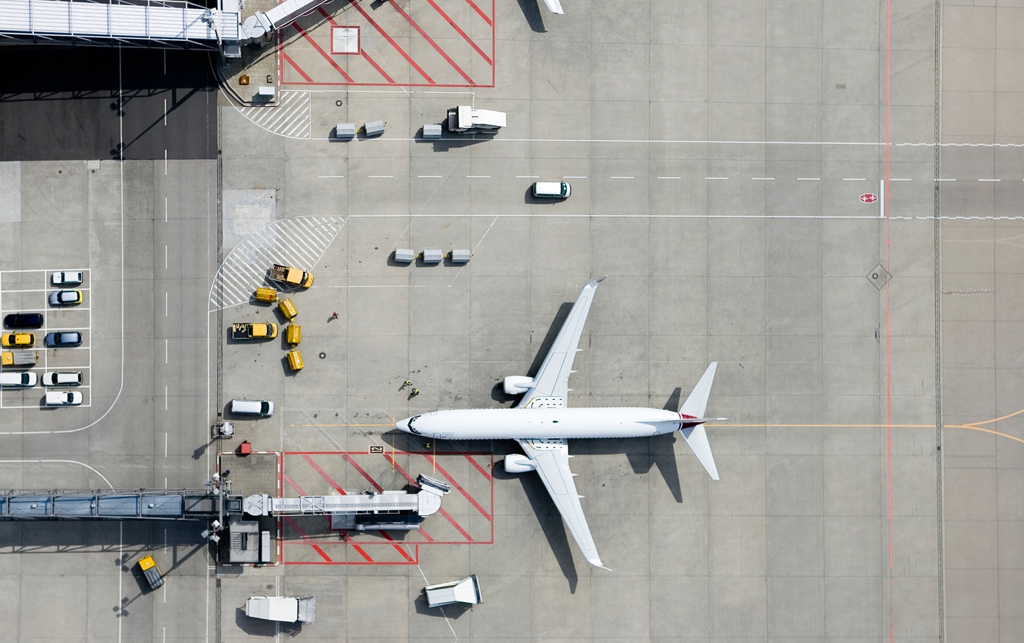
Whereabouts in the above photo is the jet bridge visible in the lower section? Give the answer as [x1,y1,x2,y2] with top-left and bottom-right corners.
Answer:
[245,474,453,530]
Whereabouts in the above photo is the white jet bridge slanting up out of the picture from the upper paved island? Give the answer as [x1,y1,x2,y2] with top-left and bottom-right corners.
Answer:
[242,0,328,43]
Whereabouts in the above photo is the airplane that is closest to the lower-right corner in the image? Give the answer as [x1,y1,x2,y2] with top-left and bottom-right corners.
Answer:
[396,275,726,571]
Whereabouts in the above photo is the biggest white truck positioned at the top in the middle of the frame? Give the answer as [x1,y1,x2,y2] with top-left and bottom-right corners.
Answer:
[448,106,506,135]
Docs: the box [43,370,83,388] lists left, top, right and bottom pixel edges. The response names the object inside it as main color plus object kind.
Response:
white car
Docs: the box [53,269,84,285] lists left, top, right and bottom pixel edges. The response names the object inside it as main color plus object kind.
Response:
white car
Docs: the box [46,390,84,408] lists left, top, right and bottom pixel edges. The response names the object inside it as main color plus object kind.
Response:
white vehicle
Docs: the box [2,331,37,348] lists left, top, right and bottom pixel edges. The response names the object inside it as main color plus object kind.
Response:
yellow car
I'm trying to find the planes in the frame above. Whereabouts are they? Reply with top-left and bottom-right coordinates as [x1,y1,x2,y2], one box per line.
[544,0,563,14]
[396,275,726,571]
